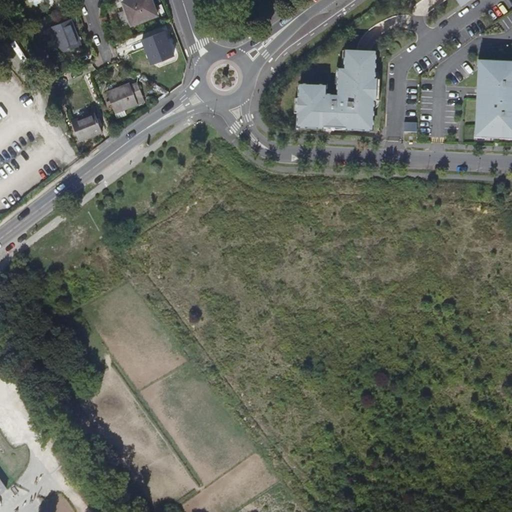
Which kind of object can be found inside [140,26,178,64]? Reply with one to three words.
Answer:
house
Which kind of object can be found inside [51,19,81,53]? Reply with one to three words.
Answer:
house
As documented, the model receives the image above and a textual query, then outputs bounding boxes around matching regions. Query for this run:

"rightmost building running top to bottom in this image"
[476,60,512,140]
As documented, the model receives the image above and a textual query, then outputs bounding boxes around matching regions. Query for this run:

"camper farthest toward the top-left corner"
[12,42,28,60]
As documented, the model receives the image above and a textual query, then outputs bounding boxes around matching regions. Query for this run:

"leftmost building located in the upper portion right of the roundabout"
[294,50,380,132]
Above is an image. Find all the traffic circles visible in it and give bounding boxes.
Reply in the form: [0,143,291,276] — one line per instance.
[186,50,256,118]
